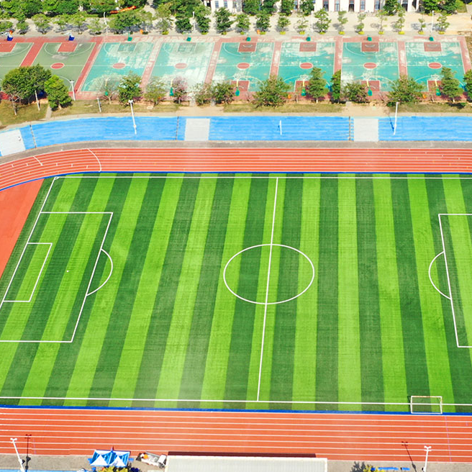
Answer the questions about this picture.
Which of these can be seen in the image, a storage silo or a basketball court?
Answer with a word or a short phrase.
basketball court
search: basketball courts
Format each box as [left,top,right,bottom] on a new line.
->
[73,36,161,100]
[0,37,42,100]
[400,35,472,99]
[272,35,338,99]
[140,36,218,100]
[7,36,101,100]
[204,36,278,99]
[338,35,407,99]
